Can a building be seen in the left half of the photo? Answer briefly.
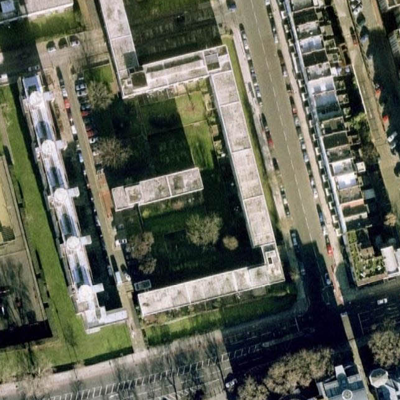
Yes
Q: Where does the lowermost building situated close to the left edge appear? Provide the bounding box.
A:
[16,76,128,337]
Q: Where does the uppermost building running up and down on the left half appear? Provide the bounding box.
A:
[99,0,148,101]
